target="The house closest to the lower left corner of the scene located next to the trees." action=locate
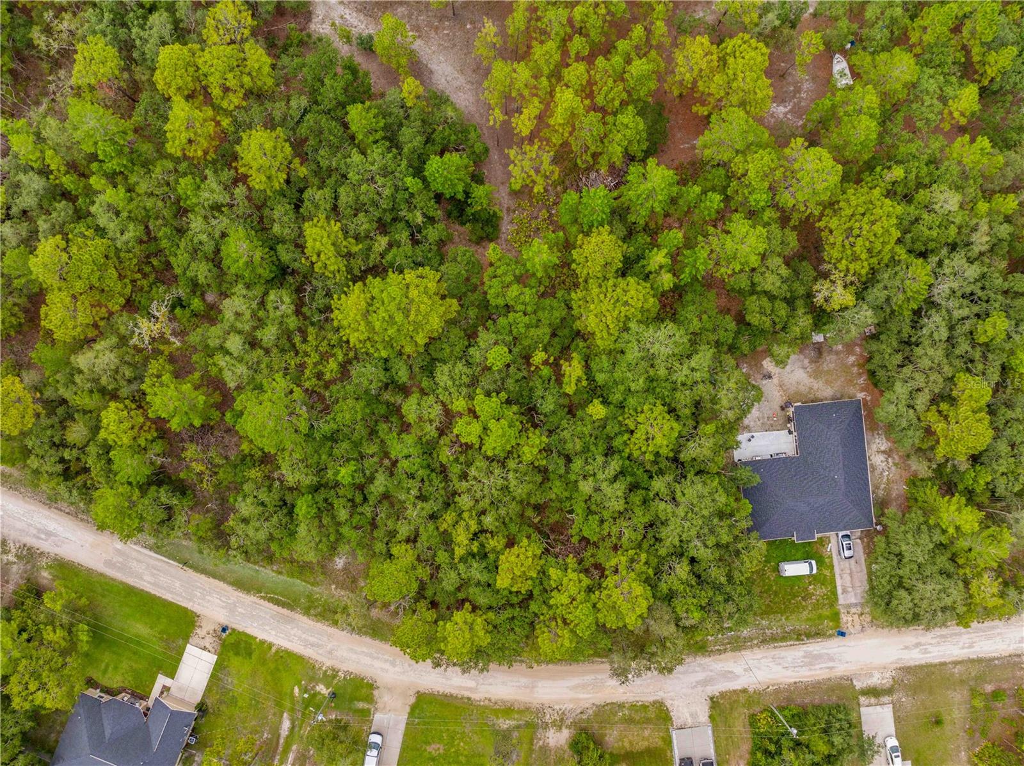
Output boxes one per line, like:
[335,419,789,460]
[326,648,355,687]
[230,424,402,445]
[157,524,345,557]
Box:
[51,688,201,766]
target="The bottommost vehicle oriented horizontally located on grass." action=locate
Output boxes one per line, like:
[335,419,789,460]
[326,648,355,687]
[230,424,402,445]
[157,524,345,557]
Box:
[775,558,816,577]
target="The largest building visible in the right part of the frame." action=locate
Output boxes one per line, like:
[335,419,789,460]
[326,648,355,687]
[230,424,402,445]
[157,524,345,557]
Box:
[736,398,875,544]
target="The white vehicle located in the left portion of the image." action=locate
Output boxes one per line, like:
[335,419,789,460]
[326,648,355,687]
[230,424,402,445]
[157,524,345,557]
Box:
[365,730,385,766]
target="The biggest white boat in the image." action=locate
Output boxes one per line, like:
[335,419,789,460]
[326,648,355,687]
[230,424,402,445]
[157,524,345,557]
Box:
[835,53,854,90]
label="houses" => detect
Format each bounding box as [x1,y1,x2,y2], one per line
[51,688,201,766]
[736,398,875,544]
